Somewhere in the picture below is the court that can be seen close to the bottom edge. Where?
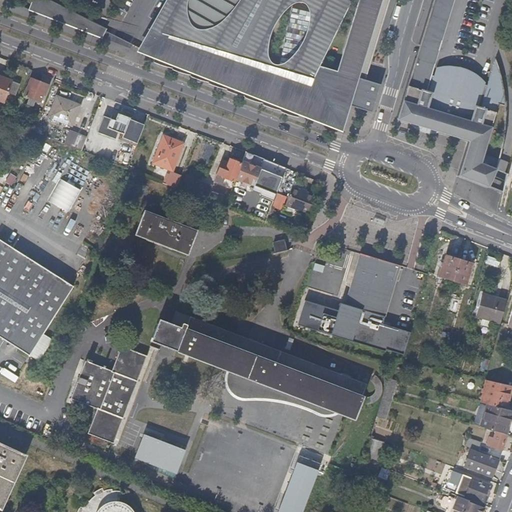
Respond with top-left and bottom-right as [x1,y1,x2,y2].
[187,424,296,512]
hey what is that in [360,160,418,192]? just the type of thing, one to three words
roundabout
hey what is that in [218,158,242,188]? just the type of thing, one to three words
house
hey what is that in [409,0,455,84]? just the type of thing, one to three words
building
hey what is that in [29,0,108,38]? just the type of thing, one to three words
shed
